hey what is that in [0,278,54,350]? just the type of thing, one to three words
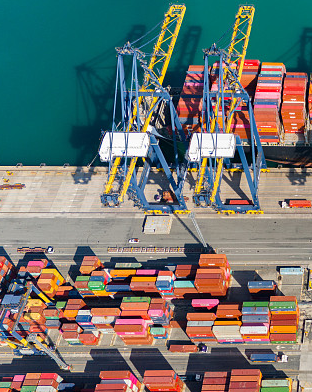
container crane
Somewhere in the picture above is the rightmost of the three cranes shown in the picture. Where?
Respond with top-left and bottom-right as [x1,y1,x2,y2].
[188,3,270,218]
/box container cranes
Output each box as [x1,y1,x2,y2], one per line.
[98,2,197,217]
[0,278,54,350]
[188,3,270,218]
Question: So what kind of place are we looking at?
port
